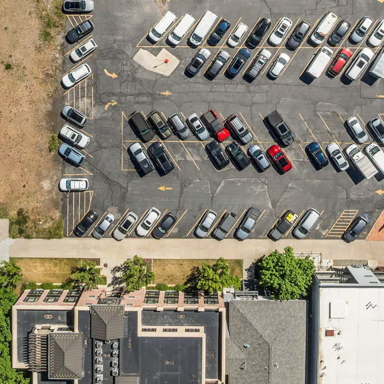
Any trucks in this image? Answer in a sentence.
Yes, the picture does show a truck.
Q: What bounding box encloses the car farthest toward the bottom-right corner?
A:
[343,214,368,244]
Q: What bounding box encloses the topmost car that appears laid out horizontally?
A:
[63,0,94,13]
